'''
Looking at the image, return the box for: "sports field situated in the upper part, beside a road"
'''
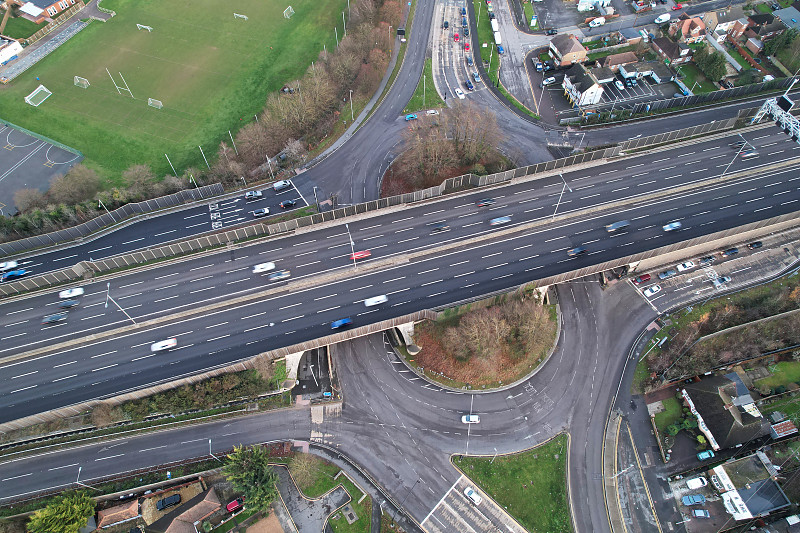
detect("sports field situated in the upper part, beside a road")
[0,0,347,199]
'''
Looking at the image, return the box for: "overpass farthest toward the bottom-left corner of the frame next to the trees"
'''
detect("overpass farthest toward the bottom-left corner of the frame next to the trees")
[284,208,420,396]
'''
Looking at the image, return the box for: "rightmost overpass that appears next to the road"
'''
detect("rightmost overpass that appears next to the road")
[503,160,644,305]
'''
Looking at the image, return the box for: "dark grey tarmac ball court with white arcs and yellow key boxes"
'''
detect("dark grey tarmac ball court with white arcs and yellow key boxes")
[0,121,83,220]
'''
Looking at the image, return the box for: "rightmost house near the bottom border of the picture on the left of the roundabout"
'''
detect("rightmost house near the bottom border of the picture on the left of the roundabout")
[162,485,226,533]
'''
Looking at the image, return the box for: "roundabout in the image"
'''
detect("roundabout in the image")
[288,0,662,533]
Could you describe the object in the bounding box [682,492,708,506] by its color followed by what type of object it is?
blue vehicle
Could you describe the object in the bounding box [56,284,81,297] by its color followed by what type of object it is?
white vehicle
